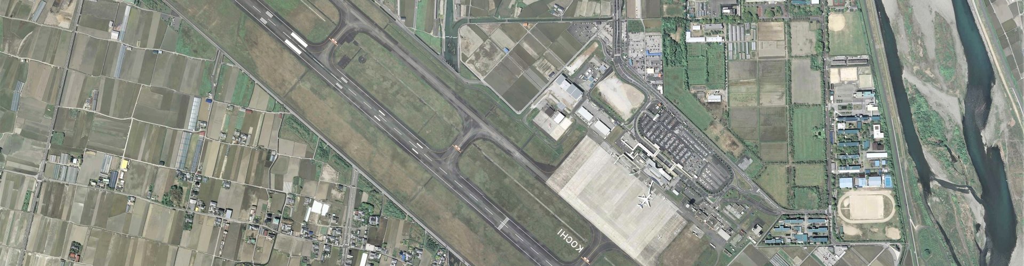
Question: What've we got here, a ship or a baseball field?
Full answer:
The image shows a baseball field.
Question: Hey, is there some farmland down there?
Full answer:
Yes, the picture does contain farmland.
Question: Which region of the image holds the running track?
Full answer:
Look in the bottom right portion of the view to spot the running track.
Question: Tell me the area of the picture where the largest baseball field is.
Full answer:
Look in the top right portion of the view to spot the largest baseball field.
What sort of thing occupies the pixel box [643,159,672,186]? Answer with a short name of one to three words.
building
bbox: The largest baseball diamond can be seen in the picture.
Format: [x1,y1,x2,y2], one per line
[828,11,868,54]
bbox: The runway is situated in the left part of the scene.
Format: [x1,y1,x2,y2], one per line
[236,0,563,266]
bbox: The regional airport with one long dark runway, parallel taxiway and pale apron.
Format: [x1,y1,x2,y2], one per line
[166,0,740,266]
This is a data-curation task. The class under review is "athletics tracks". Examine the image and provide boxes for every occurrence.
[831,189,905,241]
